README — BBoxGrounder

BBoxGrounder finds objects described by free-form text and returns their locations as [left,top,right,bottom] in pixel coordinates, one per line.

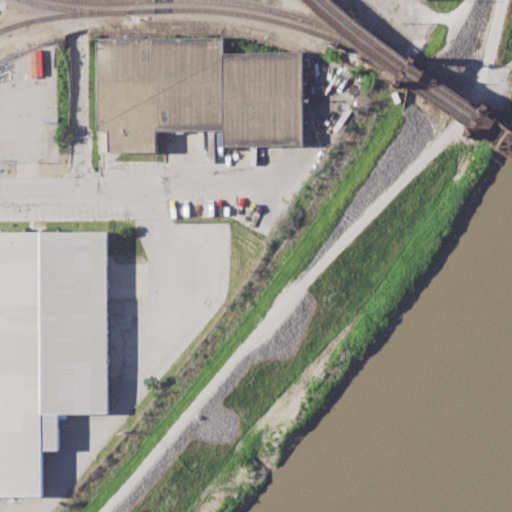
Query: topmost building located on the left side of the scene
[96,36,304,154]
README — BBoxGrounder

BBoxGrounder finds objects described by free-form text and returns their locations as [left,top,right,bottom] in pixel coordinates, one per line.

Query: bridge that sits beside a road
[300,0,512,162]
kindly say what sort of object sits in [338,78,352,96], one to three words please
vehicle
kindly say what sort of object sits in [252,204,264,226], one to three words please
vehicle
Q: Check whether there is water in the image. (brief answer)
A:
Yes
